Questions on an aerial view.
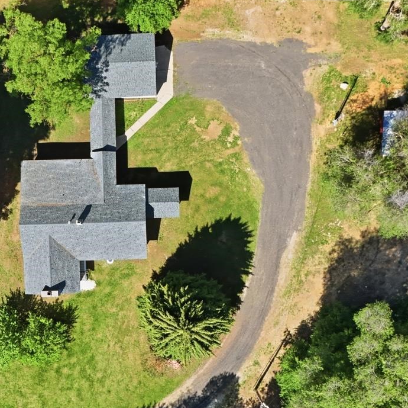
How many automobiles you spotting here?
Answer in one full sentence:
There are no automobiles in this view.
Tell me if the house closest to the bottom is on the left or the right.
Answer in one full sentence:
The house closest to the bottom sits on the left side.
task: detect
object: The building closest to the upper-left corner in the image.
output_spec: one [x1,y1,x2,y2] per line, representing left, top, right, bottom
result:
[91,34,160,99]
